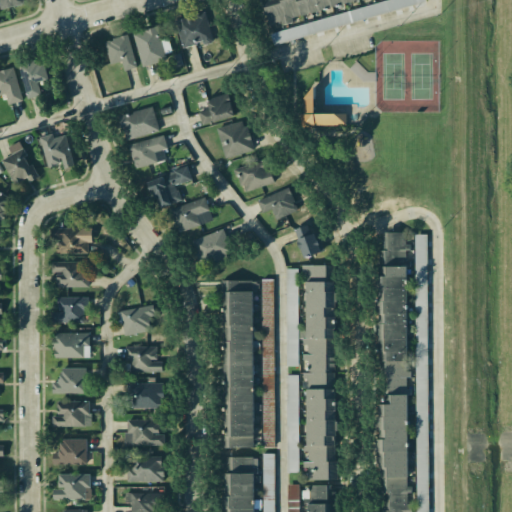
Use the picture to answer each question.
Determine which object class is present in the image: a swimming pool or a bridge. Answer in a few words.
swimming pool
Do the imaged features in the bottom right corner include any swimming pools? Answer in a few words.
No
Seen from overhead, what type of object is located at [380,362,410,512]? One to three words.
building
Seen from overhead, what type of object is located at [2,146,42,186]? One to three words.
house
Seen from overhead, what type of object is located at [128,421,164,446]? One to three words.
house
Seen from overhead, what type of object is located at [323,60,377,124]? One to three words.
swimming pool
